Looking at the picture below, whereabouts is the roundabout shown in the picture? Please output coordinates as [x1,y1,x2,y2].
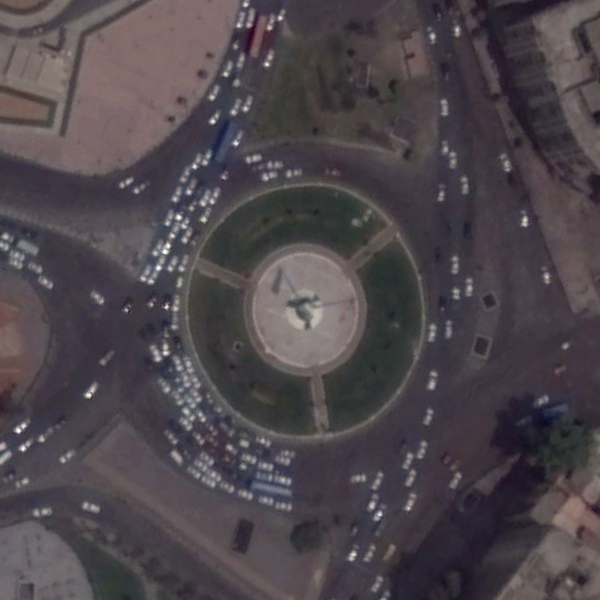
[179,176,430,444]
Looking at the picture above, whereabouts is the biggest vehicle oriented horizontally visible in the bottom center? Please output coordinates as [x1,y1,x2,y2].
[247,480,291,497]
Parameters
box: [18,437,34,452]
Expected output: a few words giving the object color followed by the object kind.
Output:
white car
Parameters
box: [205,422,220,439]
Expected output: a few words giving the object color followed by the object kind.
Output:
gray car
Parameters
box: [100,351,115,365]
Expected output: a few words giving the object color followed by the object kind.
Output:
gray car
